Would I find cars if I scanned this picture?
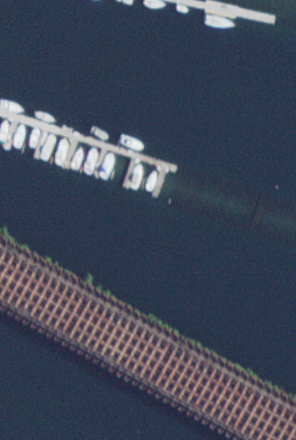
No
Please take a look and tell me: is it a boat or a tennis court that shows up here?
boat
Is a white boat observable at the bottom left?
No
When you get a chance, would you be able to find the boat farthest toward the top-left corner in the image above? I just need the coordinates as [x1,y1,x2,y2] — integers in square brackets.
[0,98,24,112]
